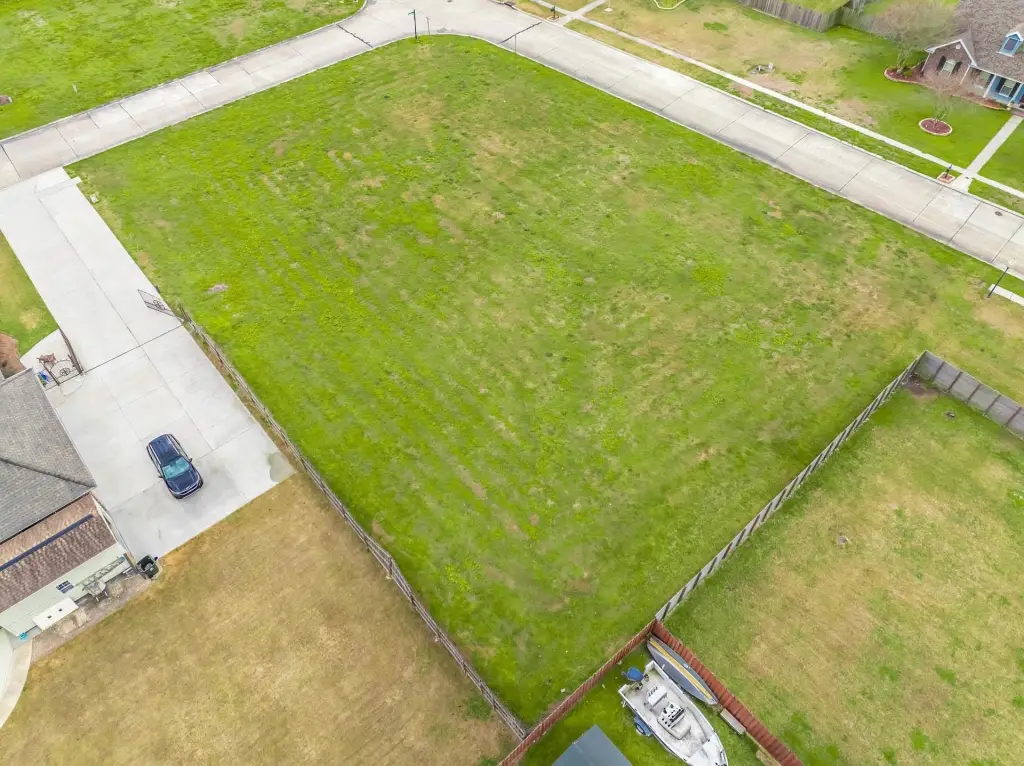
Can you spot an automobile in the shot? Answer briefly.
Yes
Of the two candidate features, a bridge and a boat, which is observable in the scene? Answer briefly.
boat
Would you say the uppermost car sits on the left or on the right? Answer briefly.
left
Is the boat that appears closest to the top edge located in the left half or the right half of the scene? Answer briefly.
right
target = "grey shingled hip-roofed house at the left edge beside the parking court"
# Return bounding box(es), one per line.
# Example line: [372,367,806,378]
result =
[0,370,104,547]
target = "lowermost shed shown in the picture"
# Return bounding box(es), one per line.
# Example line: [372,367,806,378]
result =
[556,725,631,766]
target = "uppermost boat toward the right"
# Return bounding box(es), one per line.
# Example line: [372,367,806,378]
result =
[645,637,716,708]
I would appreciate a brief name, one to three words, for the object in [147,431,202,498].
car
